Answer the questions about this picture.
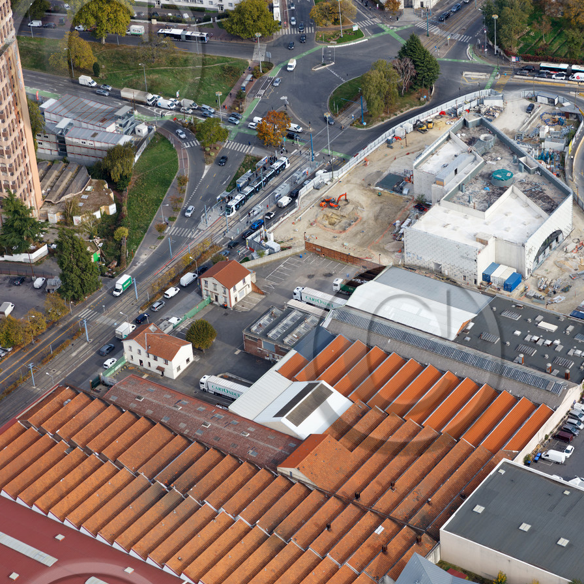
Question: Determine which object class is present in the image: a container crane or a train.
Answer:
train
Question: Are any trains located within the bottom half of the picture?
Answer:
No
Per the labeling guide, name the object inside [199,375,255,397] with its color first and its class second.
white truck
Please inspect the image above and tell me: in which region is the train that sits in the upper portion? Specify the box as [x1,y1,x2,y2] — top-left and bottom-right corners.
[226,158,289,213]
